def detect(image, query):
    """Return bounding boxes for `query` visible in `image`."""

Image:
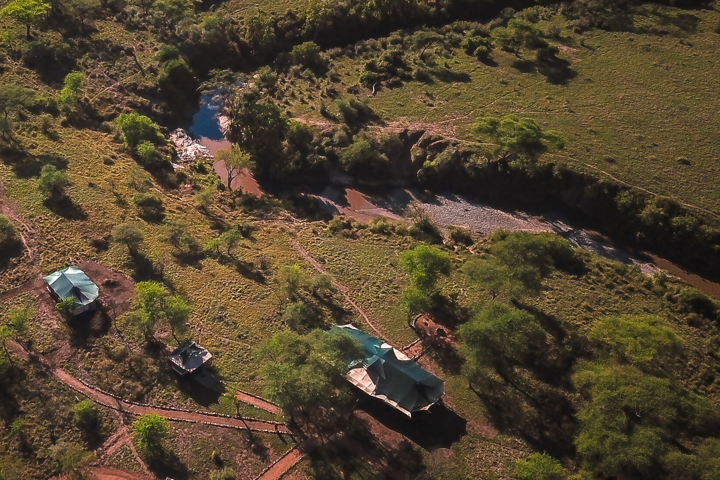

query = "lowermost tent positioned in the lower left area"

[169,347,213,387]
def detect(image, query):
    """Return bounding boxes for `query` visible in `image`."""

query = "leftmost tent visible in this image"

[44,266,100,319]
